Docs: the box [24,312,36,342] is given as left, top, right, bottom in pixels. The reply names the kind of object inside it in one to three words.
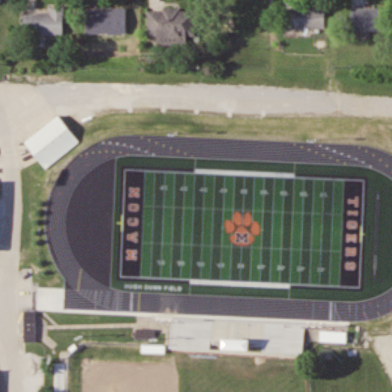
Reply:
building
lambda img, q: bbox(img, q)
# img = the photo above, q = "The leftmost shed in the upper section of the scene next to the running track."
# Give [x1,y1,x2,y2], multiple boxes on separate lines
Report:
[26,117,78,168]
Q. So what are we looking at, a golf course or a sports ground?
sports ground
